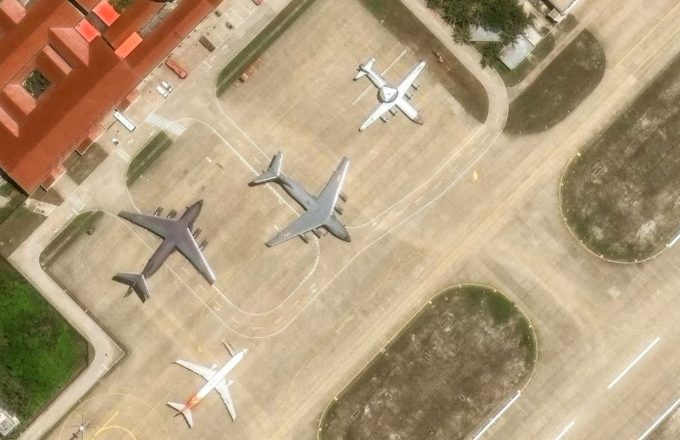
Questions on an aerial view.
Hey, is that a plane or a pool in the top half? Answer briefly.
plane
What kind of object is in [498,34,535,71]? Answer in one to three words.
house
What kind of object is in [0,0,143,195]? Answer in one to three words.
building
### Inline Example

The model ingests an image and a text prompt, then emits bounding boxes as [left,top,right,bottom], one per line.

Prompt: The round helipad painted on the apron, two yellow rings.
[59,394,169,440]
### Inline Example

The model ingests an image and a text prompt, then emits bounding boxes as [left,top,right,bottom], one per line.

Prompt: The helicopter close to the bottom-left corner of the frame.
[70,415,93,440]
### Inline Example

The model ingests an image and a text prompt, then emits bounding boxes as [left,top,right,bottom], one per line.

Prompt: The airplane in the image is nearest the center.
[251,151,351,247]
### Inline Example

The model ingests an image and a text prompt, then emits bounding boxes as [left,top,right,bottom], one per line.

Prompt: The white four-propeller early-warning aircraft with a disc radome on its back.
[357,61,426,133]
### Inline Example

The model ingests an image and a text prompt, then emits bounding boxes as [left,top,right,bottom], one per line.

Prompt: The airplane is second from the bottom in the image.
[116,201,214,301]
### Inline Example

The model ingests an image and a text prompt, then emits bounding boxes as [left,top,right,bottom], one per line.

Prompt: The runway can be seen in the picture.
[469,232,680,440]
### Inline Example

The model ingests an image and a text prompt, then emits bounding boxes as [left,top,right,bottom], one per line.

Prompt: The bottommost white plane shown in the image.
[170,349,246,425]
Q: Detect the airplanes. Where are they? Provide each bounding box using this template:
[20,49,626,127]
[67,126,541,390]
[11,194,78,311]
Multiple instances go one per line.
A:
[251,151,351,247]
[170,349,246,425]
[116,201,214,301]
[357,61,426,133]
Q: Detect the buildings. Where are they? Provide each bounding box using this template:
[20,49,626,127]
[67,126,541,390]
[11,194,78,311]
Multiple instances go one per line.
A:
[0,407,22,437]
[0,0,143,195]
[548,0,577,16]
[498,34,535,71]
[469,26,503,42]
